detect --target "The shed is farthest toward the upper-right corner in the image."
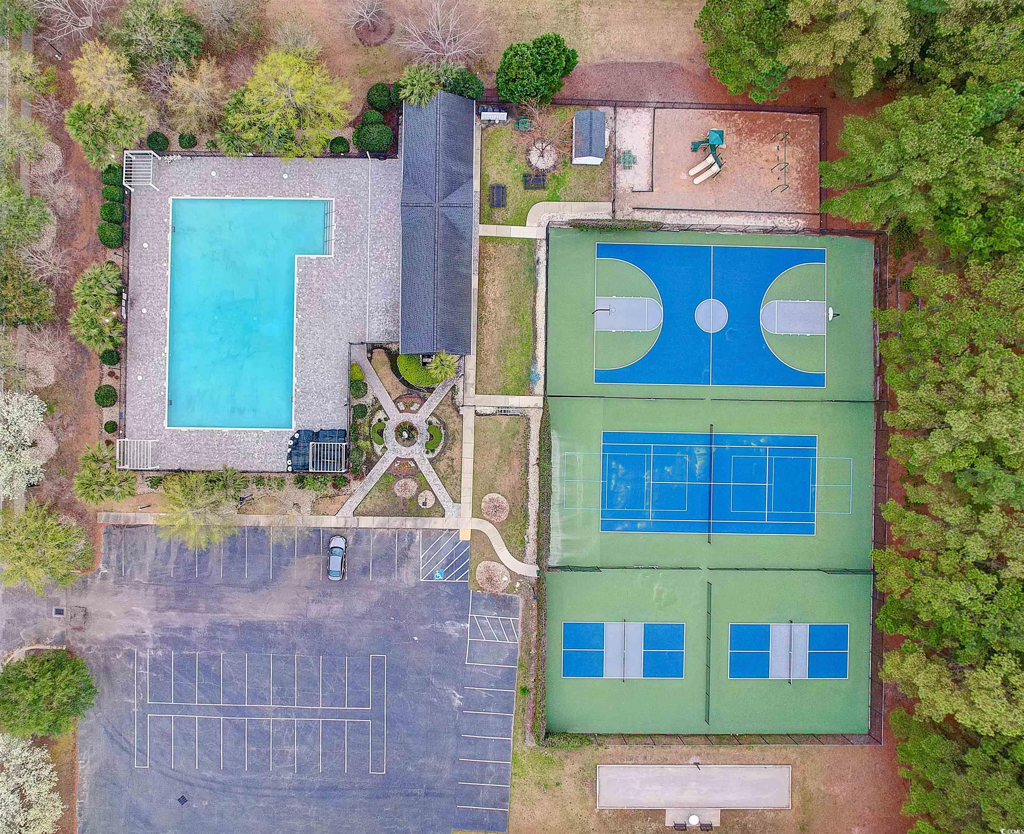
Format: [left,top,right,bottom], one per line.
[574,107,606,164]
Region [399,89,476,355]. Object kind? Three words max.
building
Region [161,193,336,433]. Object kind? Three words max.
swimming pool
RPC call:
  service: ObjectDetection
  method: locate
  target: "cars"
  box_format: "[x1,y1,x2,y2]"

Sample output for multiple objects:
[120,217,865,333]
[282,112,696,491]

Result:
[328,537,348,582]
